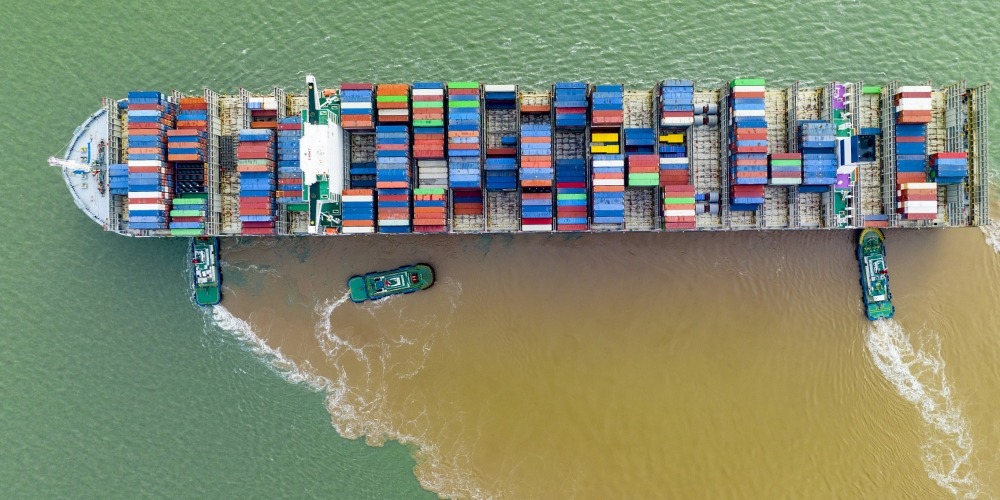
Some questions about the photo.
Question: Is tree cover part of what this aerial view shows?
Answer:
No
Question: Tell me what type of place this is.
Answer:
port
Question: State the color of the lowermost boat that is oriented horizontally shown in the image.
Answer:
green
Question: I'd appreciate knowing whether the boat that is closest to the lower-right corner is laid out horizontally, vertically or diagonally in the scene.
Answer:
vertically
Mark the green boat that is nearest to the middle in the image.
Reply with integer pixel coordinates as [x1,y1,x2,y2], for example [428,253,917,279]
[347,263,436,304]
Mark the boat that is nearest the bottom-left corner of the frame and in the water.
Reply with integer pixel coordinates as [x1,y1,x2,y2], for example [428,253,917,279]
[184,236,222,306]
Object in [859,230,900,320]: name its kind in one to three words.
boat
